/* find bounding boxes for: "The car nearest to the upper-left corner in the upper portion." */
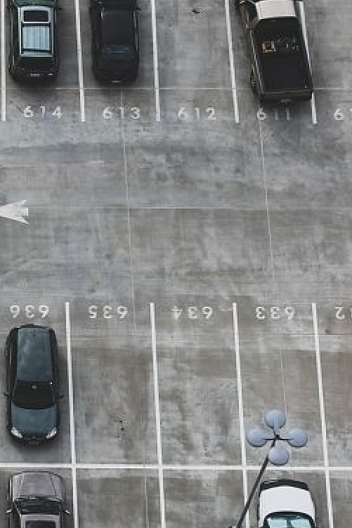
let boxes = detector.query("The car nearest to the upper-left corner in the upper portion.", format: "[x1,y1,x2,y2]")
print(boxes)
[7,0,62,82]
